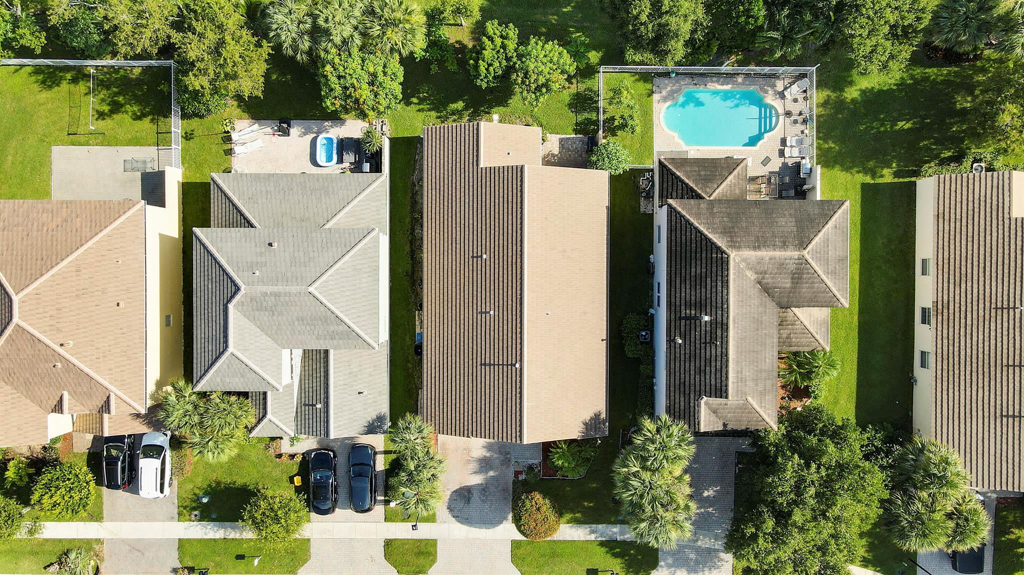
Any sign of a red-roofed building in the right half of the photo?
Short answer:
No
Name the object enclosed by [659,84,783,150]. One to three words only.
swimming pool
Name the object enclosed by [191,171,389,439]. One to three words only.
house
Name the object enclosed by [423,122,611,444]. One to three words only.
house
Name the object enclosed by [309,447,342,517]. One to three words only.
car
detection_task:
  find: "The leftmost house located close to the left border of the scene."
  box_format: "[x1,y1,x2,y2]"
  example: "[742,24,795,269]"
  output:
[0,199,182,447]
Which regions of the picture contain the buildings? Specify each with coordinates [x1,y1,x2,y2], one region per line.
[423,122,611,444]
[191,171,389,439]
[652,149,851,435]
[915,172,1024,490]
[0,199,182,447]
